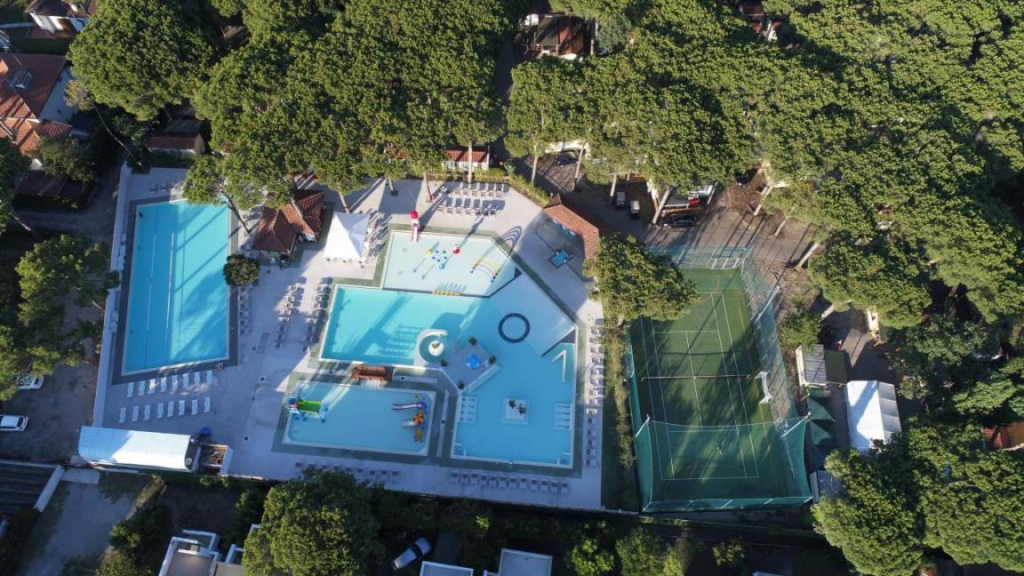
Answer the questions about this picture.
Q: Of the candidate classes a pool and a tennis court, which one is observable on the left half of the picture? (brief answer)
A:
pool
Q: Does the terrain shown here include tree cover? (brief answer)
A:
Yes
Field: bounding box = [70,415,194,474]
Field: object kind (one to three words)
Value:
building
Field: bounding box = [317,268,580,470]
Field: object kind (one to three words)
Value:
swimming pool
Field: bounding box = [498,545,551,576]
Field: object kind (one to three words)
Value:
house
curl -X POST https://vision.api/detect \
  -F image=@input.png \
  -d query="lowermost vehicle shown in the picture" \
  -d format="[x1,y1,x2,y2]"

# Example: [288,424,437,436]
[389,537,432,576]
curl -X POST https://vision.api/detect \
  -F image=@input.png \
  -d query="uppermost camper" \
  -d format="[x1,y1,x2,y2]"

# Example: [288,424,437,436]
[520,9,539,30]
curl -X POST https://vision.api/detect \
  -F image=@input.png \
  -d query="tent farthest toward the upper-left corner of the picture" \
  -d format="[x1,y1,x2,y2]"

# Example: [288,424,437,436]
[325,215,372,267]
